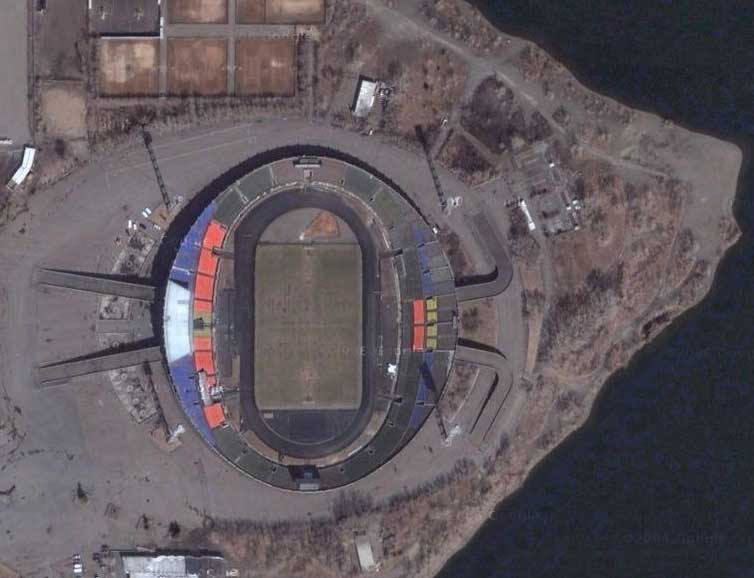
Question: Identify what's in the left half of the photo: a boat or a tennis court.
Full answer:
Visible in the left half of the photo is a tennis court.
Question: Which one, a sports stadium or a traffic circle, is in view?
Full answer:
This aerial view contains a sports stadium.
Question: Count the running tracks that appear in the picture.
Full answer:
The picture shows 1 running track.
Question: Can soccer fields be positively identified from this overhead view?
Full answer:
Yes, the frame does contain a soccer field.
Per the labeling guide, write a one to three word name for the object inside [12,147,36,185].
building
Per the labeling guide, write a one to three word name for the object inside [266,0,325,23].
tennis court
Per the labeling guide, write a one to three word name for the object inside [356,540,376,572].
building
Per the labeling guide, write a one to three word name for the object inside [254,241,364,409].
soccer field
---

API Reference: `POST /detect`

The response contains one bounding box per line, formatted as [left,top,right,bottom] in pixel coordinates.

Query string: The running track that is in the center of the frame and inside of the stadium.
[236,189,380,459]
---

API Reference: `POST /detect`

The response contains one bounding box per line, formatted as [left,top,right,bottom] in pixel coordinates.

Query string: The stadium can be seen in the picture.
[161,156,460,493]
